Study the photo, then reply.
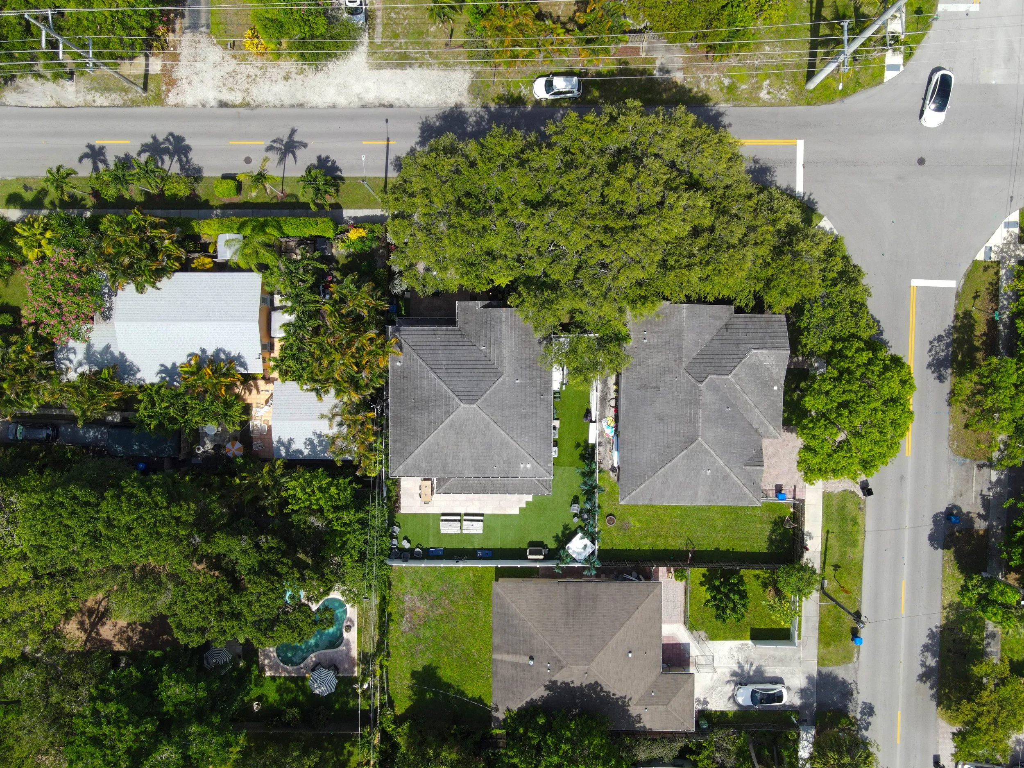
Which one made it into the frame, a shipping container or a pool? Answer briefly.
pool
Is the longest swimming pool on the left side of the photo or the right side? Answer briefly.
left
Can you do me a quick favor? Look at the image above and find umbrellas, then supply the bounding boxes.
[226,441,247,458]
[204,647,232,674]
[309,668,338,696]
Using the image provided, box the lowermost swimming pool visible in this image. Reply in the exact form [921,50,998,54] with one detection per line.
[275,594,352,671]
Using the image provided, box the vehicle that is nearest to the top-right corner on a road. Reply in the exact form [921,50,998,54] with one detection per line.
[917,70,955,128]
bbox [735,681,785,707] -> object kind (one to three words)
car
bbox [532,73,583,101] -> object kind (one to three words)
car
